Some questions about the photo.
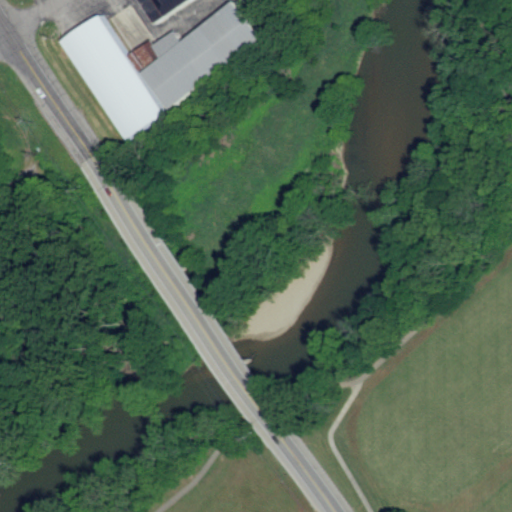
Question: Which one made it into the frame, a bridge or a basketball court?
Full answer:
Visible in the photo is a bridge.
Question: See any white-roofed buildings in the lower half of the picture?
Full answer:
No, I see no white-roofed building in the lower half of the picture.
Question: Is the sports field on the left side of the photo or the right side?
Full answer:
It is on the right.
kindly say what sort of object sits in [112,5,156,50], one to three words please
building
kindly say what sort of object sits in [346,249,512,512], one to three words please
sports field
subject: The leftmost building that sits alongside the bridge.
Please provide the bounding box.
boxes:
[59,14,166,142]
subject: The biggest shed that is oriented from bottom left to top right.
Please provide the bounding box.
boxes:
[142,2,256,109]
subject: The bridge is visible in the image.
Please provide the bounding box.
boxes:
[80,153,276,425]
